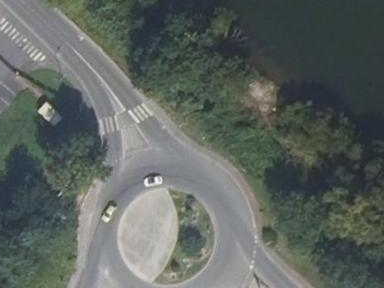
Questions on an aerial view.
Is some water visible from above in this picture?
Yes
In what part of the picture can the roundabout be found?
bottom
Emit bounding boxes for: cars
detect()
[103,204,117,222]
[144,177,163,187]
